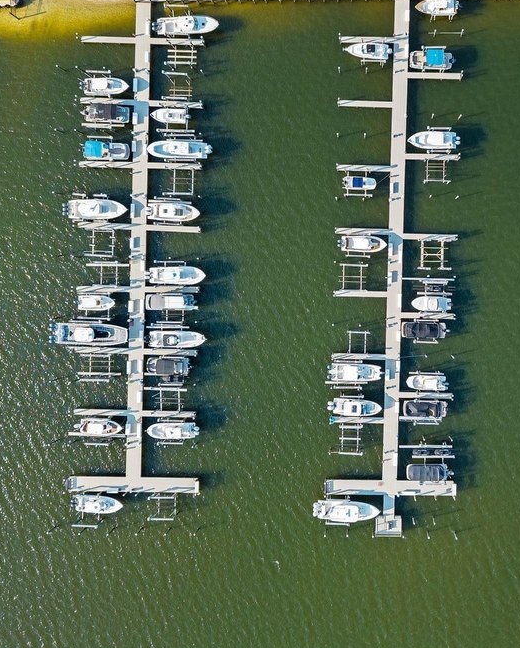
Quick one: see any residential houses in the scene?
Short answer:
No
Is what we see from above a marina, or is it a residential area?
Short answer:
marina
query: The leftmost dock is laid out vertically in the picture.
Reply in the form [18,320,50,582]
[67,1,208,496]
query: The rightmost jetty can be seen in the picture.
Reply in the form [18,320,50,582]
[324,0,466,540]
